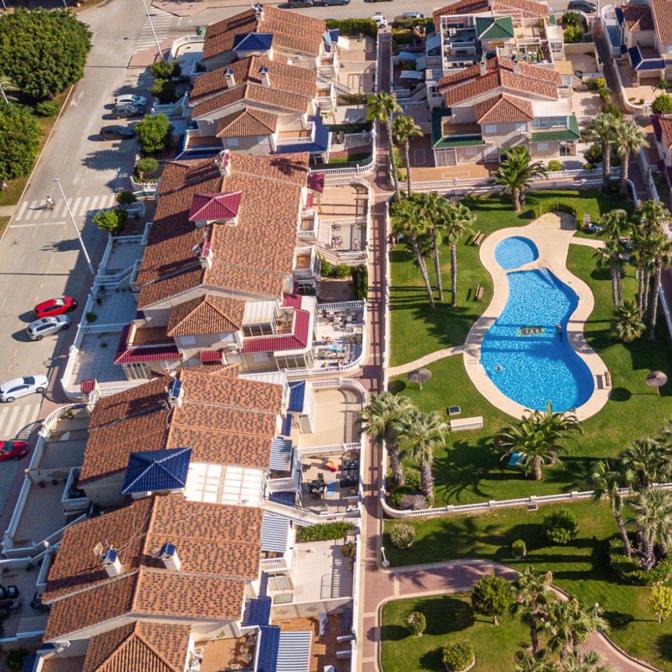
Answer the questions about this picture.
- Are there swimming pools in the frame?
Yes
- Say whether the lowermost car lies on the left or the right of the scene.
left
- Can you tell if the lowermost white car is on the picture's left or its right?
left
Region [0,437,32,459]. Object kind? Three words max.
car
